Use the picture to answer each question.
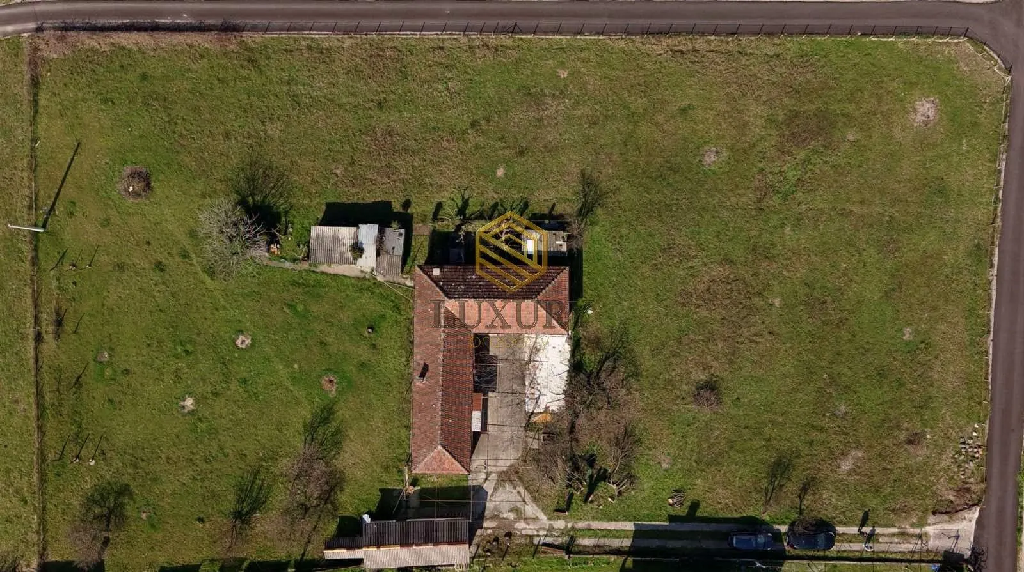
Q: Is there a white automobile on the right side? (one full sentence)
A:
No, no white automobile can be made out on the right side.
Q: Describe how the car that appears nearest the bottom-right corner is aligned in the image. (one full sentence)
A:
From this overhead view, the car that appears nearest the bottom-right corner appears to run from left to right.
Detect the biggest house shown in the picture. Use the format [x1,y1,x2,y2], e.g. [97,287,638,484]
[409,264,570,475]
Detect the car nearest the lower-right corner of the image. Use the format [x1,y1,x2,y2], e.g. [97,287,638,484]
[784,529,834,553]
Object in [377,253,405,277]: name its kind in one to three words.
shed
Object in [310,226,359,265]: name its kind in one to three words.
shed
